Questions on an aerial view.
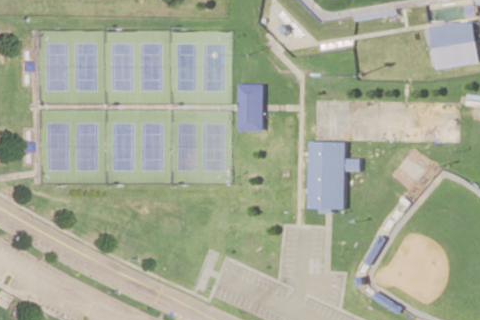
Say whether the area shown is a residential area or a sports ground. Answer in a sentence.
This image shows a sports ground.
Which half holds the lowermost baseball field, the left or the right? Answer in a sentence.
It is on the right.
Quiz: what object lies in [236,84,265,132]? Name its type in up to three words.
building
